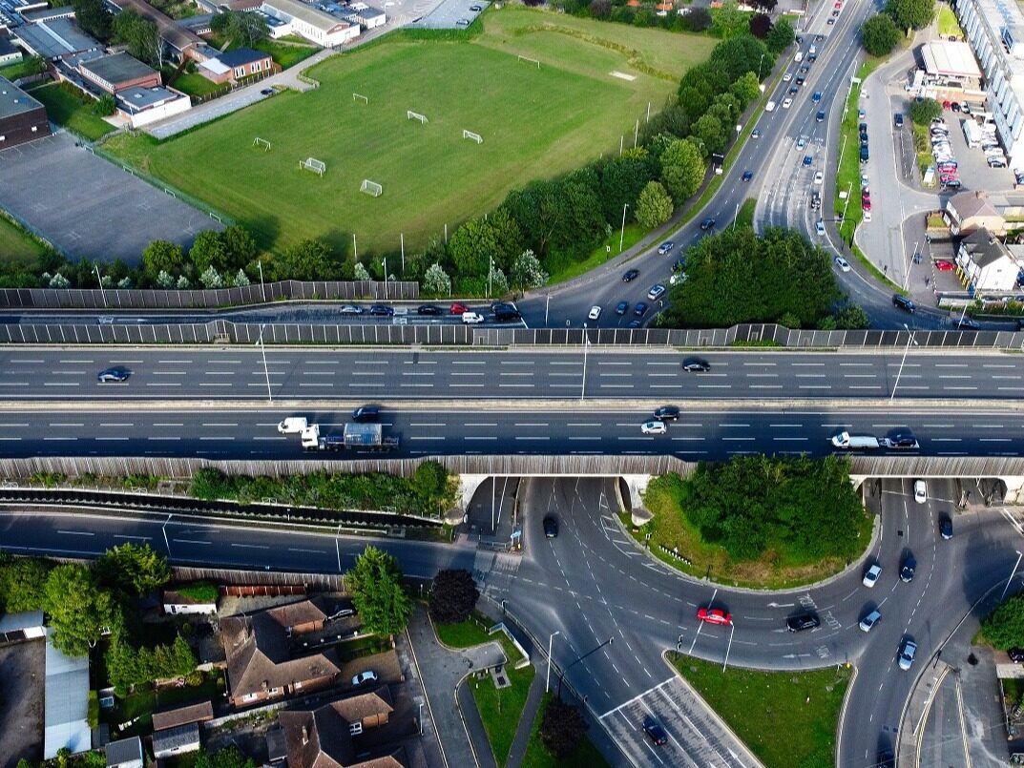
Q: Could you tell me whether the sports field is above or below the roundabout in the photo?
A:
above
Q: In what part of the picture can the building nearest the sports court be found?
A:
top left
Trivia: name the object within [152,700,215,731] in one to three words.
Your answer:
shed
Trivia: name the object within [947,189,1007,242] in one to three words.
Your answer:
house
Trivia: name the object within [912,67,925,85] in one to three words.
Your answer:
vehicle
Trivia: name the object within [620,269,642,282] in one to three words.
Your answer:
vehicle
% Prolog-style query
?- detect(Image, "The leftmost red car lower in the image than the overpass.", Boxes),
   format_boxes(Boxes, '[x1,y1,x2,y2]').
[697,608,731,626]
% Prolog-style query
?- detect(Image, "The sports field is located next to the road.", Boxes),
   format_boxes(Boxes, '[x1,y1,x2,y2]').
[100,7,720,286]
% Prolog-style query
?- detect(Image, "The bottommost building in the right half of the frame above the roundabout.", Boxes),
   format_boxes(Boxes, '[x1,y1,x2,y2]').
[961,216,1019,289]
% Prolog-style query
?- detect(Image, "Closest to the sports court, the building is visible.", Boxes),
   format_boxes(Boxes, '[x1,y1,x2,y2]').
[0,74,51,149]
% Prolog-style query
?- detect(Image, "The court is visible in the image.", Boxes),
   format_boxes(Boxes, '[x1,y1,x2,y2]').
[0,135,226,269]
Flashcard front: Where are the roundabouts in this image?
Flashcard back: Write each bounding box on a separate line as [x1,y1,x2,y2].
[0,478,1024,768]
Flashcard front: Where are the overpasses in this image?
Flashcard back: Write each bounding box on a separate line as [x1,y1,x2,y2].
[0,343,1024,530]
